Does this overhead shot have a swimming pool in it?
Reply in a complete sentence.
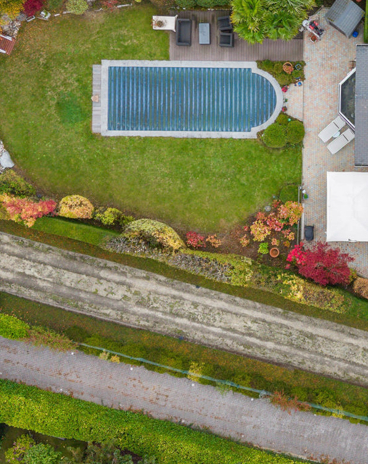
Yes, there's a swimming pool down there.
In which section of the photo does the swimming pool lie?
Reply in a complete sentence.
Look in the top portion of the view to spot the swimming pool.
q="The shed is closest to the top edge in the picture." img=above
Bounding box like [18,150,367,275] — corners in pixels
[326,0,365,37]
